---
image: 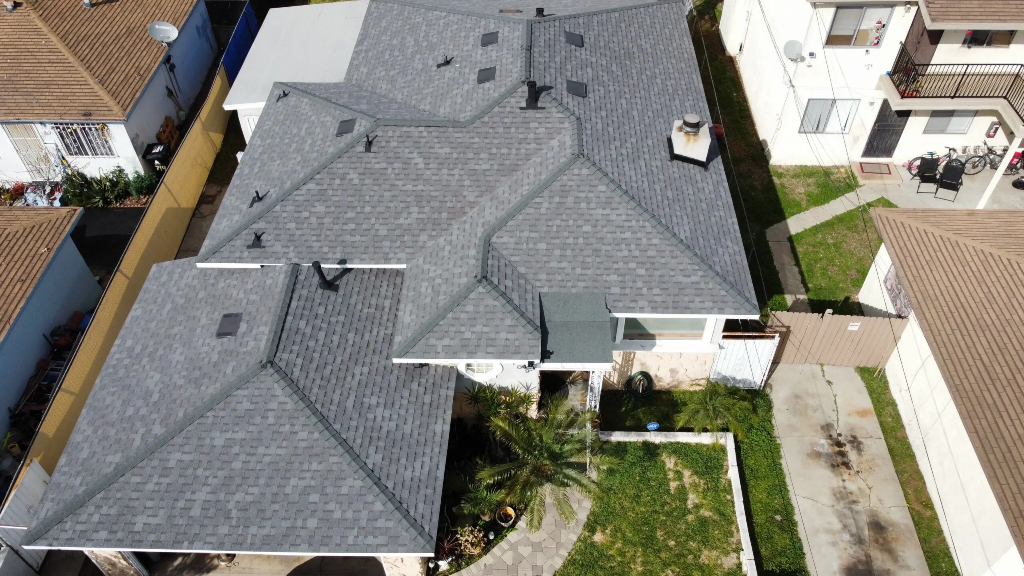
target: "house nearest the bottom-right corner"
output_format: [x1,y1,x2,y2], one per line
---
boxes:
[859,205,1024,576]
